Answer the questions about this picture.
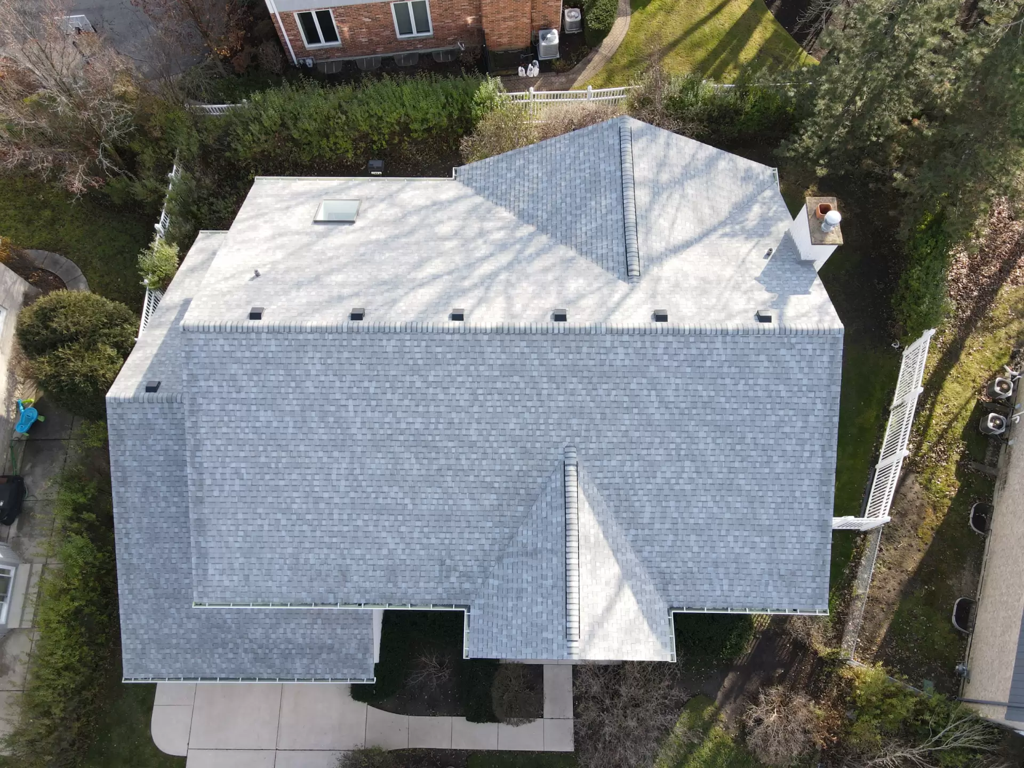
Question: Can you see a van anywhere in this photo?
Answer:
No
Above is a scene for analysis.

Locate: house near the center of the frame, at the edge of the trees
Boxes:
[105,117,846,685]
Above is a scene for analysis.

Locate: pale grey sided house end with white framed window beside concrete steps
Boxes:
[0,546,49,638]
